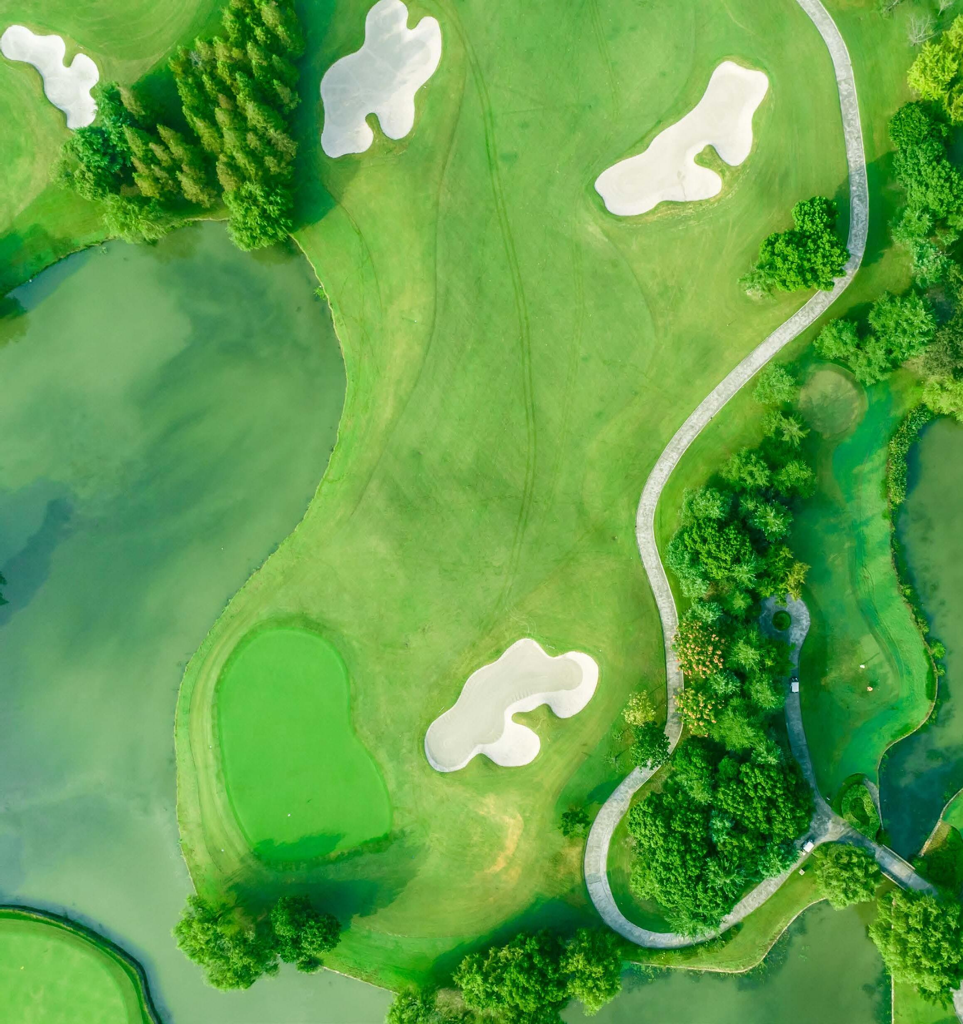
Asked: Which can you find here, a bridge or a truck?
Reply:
bridge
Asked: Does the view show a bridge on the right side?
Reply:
Yes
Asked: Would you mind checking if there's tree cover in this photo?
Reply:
Yes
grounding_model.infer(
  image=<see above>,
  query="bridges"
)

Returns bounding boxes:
[876,843,928,892]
